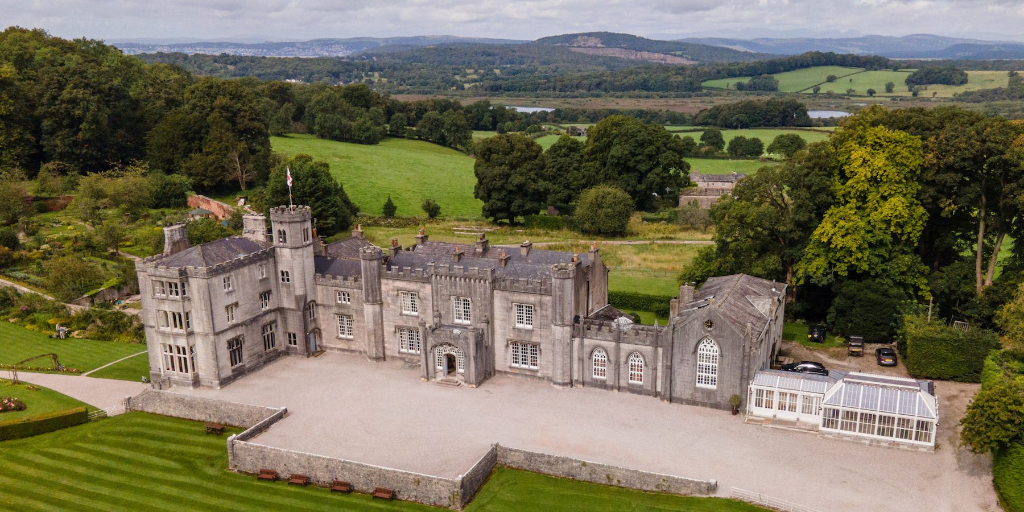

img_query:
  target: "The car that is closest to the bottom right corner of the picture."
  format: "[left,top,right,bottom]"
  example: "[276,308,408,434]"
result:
[875,345,900,365]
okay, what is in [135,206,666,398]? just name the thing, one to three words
building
